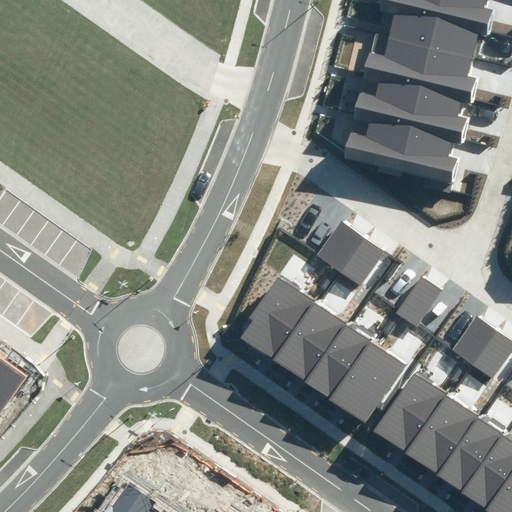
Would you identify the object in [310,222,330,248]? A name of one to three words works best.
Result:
car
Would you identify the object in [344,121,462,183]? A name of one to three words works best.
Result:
house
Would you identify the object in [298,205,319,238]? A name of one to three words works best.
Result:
car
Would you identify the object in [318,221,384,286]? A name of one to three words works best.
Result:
building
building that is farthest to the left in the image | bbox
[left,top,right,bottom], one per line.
[0,358,30,416]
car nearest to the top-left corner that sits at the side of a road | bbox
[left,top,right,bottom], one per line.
[190,172,211,202]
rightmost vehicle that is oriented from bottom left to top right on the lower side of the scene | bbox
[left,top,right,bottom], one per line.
[444,311,470,343]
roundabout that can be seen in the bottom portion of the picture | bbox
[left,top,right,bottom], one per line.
[90,297,192,401]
